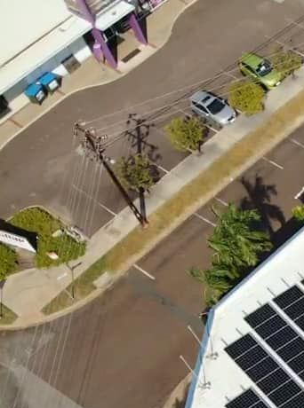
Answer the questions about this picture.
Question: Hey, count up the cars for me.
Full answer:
In total, there are 2 cars in the scene.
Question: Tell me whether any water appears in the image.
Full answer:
No, the scene doesn't show any water.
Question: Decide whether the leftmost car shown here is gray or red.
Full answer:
The leftmost car looks gray in the image.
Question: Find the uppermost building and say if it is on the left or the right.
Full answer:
The uppermost building appears in the left half of the scene.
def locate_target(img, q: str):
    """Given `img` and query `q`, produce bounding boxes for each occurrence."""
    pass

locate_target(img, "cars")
[232,50,286,94]
[184,85,240,130]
